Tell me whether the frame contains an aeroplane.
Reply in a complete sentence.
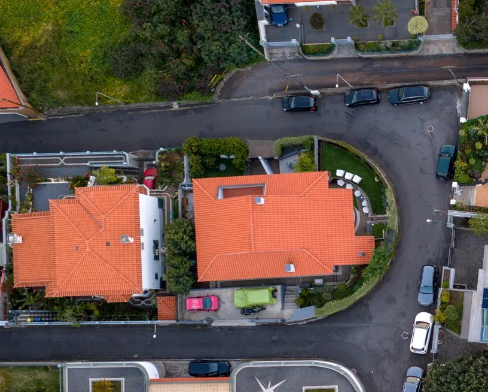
No, no aeroplane can be seen from above.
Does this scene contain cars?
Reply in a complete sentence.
Yes, there is a car in the image.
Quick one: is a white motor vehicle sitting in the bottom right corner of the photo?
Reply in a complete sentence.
Yes, a white motor vehicle shows up in the bottom right corner of the photo.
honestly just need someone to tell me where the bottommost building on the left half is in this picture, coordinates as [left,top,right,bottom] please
[156,296,184,321]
